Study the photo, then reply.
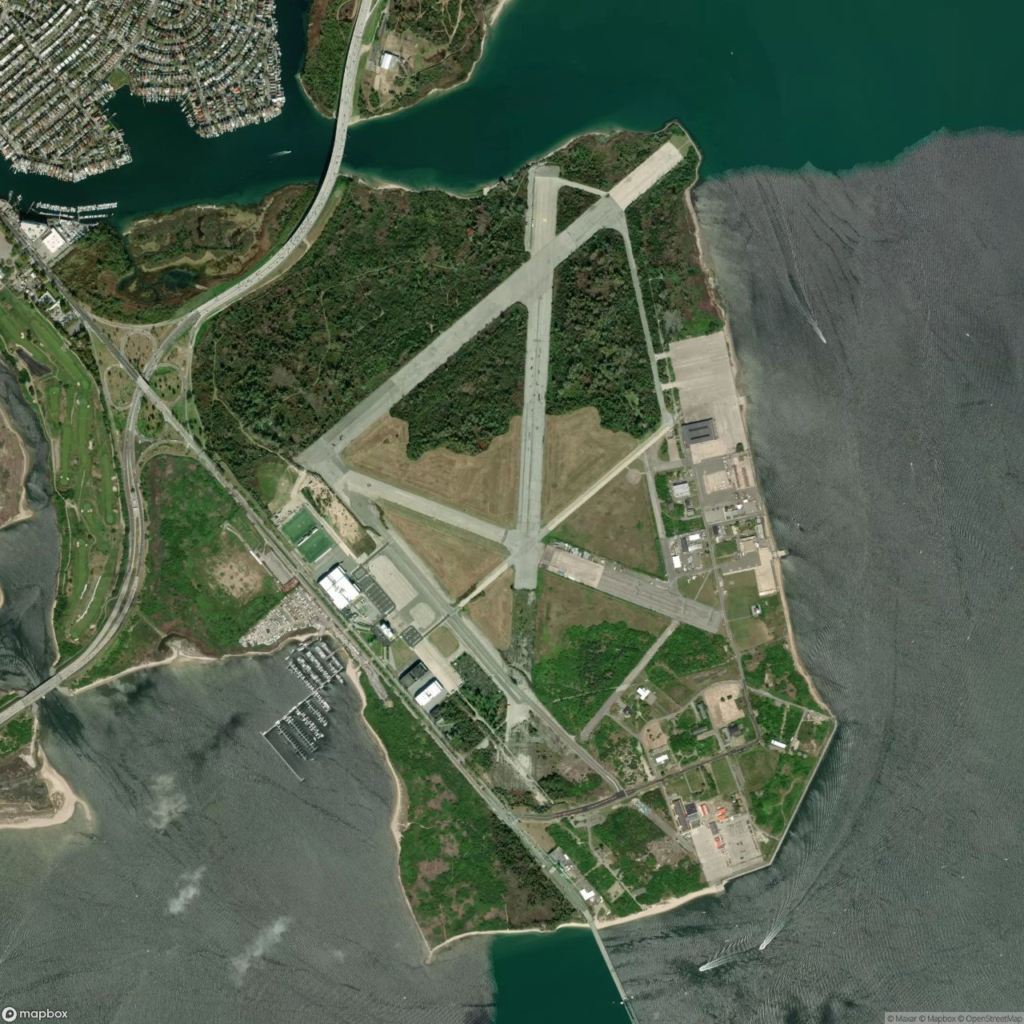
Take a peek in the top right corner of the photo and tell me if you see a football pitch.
No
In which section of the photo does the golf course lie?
left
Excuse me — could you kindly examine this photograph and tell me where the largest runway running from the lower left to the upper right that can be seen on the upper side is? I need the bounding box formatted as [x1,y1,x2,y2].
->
[355,192,624,437]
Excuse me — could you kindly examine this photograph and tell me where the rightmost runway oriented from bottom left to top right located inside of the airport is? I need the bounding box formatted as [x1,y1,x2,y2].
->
[608,142,683,210]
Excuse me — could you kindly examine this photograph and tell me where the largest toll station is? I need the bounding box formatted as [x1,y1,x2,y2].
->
[557,862,572,884]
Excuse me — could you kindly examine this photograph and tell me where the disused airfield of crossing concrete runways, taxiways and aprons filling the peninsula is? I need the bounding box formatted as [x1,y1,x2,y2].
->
[294,142,723,805]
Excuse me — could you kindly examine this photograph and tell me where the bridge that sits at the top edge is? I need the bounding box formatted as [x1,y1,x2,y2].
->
[197,0,379,315]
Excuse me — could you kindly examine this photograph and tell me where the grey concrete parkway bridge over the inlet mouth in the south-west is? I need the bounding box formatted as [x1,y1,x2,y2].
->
[0,666,70,724]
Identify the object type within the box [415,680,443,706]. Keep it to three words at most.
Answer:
hangar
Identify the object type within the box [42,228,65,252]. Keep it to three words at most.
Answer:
building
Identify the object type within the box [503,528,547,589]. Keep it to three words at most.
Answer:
runway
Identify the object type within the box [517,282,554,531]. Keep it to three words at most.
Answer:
runway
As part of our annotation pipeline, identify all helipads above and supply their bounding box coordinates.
[627,469,644,484]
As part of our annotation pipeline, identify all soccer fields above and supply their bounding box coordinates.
[282,506,318,543]
[299,528,333,563]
